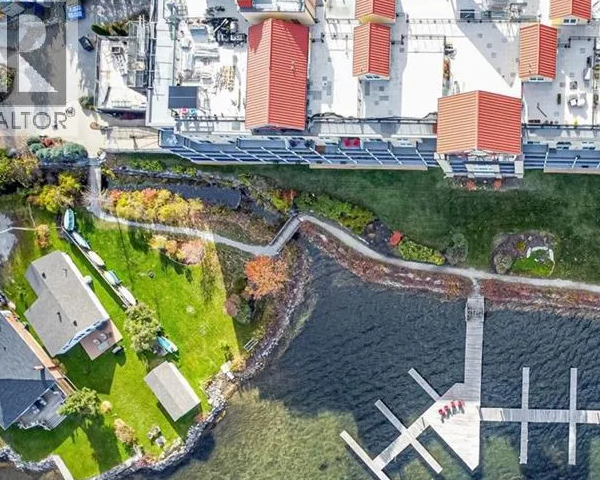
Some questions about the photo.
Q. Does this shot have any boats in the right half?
No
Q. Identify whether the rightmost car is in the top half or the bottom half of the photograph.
top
